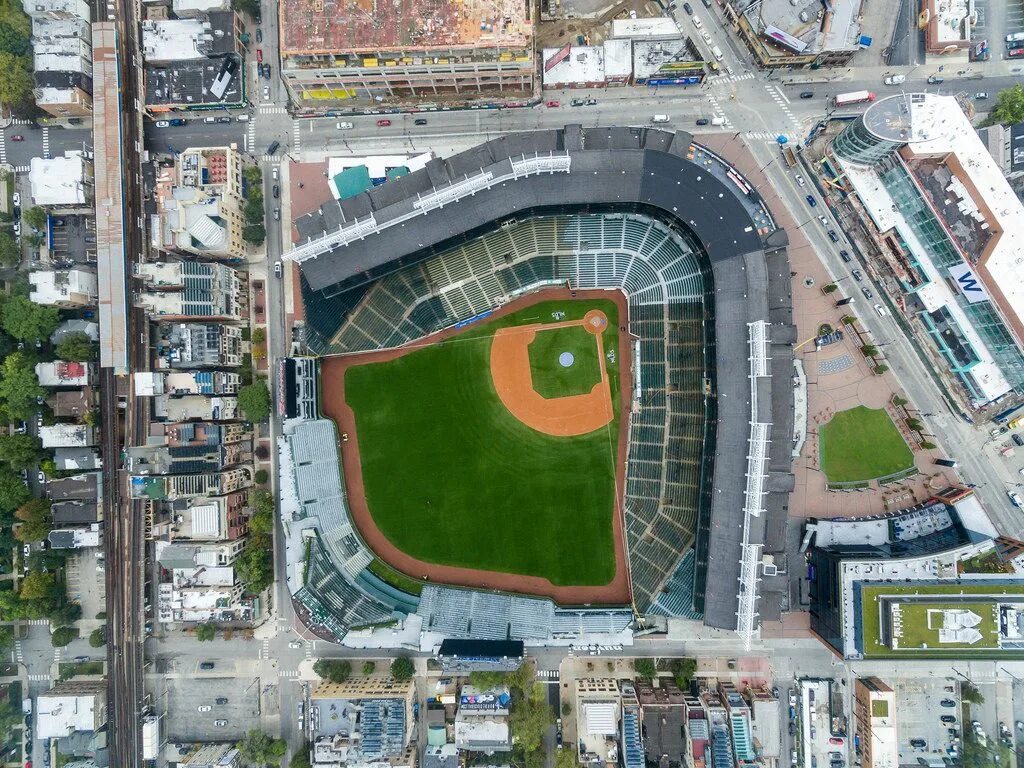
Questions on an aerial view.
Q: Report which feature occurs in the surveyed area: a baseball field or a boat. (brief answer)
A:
baseball field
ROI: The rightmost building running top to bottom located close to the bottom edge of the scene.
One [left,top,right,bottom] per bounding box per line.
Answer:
[853,677,898,768]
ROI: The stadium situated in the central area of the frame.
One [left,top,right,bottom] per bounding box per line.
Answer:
[277,125,807,672]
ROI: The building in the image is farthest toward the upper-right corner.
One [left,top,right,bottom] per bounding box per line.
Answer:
[919,0,980,57]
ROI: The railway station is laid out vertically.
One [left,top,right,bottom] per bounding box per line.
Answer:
[92,22,129,378]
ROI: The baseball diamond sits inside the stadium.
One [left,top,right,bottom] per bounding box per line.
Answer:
[320,282,637,603]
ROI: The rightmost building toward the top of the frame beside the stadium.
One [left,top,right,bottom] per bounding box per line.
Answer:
[818,90,1024,400]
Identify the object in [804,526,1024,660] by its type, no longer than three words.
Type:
building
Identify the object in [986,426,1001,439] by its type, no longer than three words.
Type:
vehicle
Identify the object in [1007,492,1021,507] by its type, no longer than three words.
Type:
vehicle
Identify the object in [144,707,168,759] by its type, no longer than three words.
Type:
shed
